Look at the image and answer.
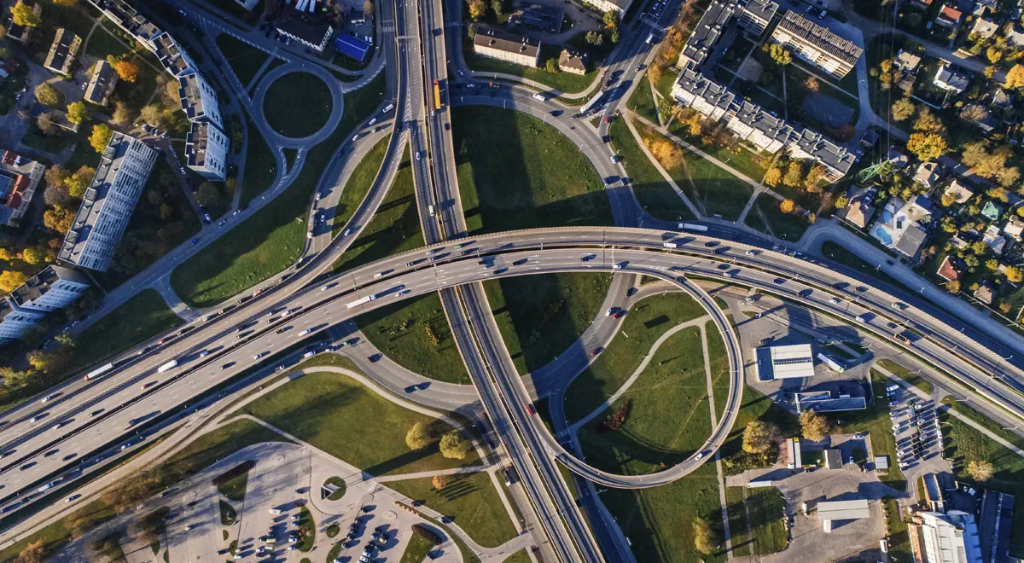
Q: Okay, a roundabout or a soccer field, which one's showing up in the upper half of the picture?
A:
roundabout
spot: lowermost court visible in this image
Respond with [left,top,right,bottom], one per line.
[803,91,851,126]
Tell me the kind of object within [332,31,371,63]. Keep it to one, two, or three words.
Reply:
shed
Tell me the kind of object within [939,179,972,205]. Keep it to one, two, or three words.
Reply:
house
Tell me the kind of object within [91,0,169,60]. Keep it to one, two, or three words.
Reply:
building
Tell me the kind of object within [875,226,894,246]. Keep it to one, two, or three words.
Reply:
swimming pool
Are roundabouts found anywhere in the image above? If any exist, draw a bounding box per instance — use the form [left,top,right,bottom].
[251,58,345,152]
